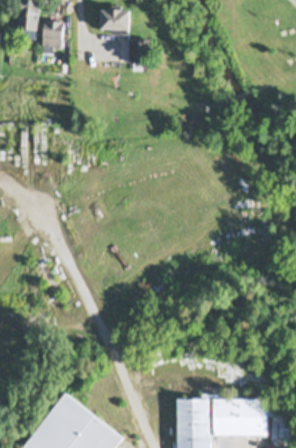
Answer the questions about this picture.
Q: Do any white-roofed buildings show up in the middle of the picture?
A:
No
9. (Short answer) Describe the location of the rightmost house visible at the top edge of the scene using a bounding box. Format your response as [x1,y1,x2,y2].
[100,6,130,36]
